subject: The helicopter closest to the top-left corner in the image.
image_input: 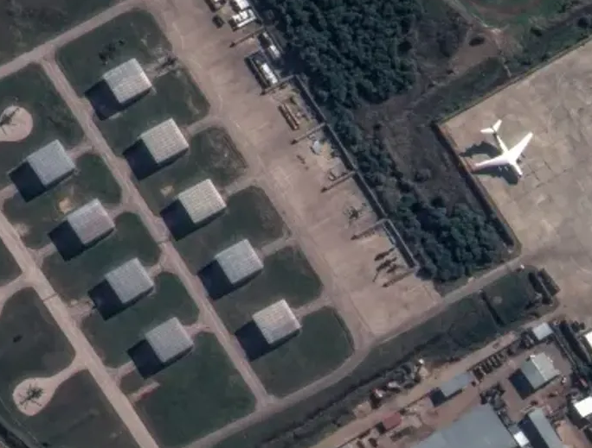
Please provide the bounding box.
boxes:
[0,104,20,130]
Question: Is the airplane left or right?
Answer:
right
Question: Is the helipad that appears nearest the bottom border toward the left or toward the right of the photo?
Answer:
left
